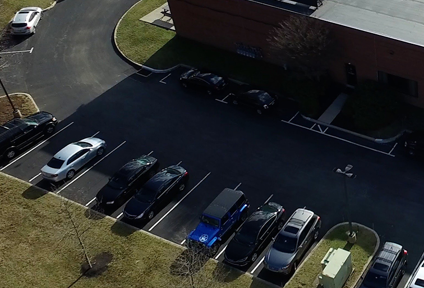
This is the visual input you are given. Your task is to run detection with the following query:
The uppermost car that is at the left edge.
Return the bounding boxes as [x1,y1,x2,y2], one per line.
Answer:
[5,10,47,39]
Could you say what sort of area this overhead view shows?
parking lot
